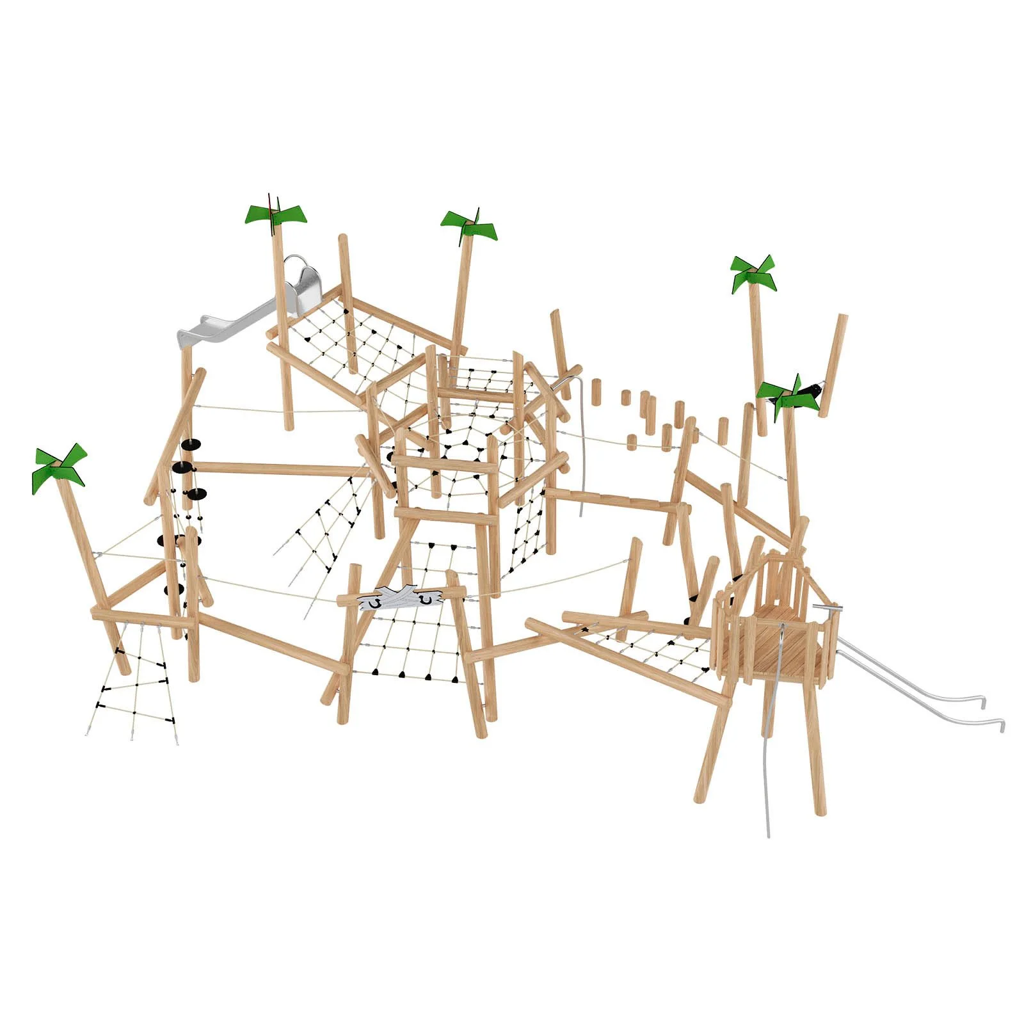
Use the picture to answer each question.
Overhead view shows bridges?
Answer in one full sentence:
Yes, the photo shows a bridge.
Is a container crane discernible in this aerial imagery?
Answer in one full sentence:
No, there is no container crane in the image.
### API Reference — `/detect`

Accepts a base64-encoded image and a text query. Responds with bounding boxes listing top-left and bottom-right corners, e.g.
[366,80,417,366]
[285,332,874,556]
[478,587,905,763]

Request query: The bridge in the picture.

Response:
[527,611,732,707]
